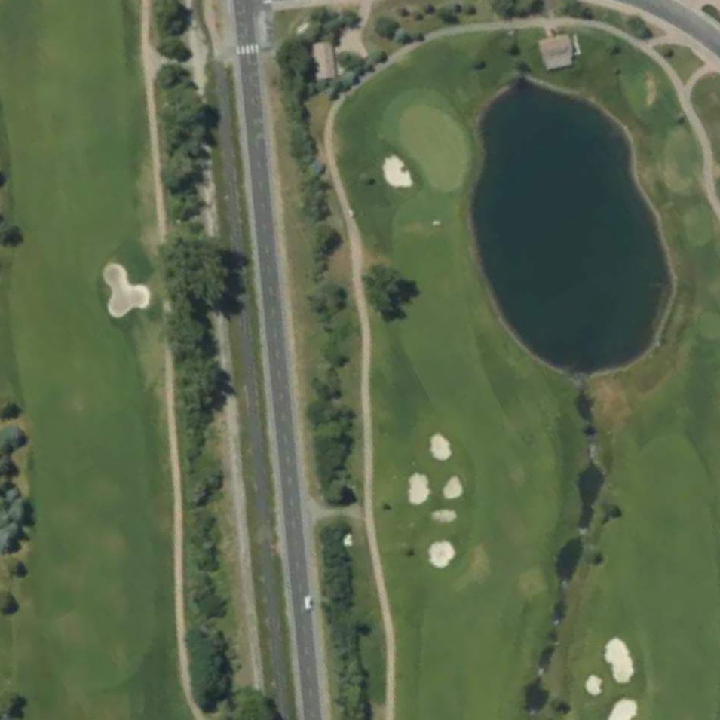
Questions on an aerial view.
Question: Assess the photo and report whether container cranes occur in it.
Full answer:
No, there is no container crane in the image.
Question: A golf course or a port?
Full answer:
This looks like a golf course.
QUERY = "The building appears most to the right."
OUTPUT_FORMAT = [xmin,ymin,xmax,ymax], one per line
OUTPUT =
[539,33,575,70]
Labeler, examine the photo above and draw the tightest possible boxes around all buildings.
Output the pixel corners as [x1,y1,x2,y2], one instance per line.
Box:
[312,41,336,79]
[539,33,575,70]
